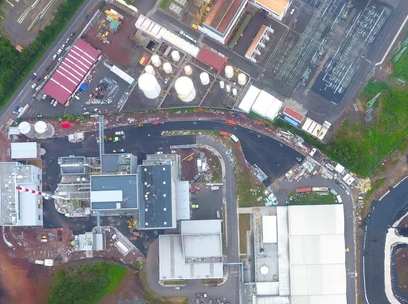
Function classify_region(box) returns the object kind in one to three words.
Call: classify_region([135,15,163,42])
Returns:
building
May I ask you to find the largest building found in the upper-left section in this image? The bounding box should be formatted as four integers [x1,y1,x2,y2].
[43,38,103,108]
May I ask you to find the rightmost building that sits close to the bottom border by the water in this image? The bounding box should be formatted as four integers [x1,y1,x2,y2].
[288,205,347,304]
